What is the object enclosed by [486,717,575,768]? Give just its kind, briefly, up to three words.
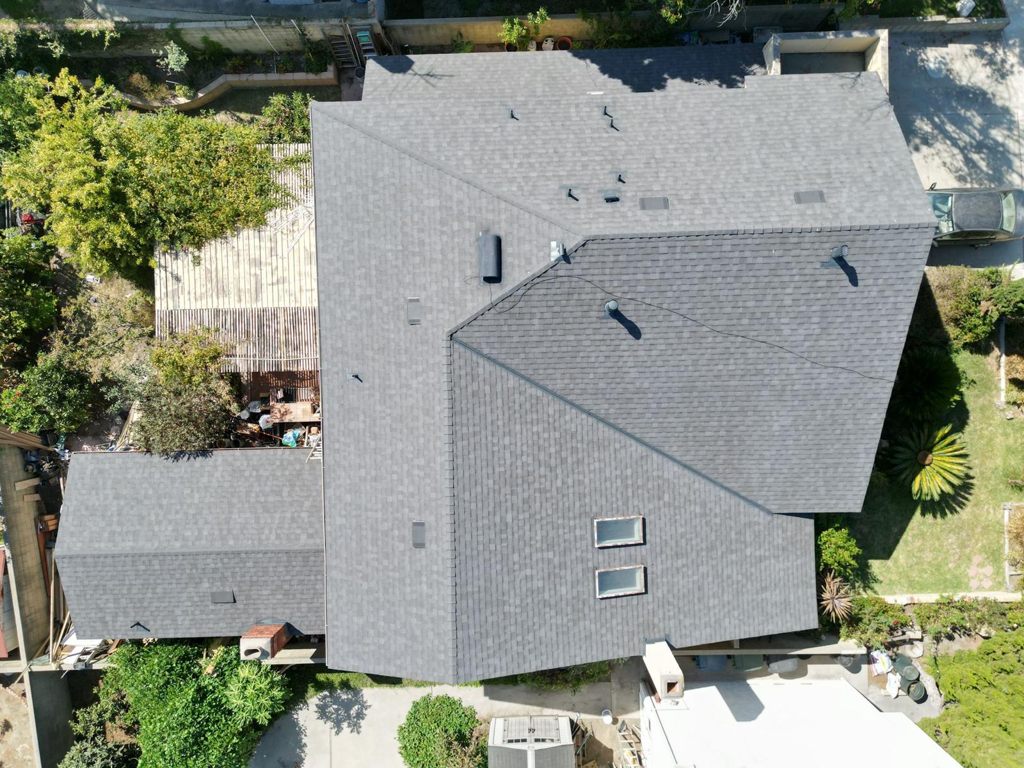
shed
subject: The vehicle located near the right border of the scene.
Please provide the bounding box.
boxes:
[922,178,1024,255]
